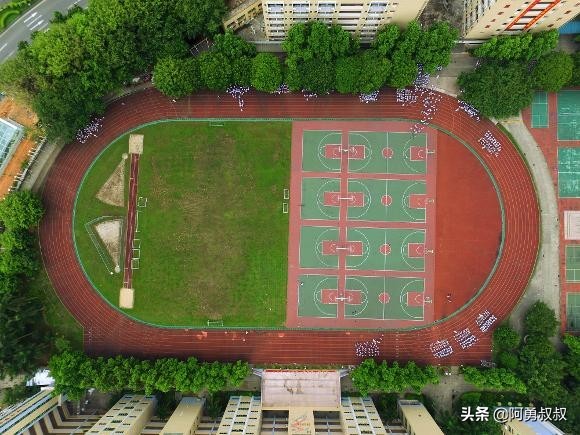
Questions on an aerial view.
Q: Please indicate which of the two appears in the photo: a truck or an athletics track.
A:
athletics track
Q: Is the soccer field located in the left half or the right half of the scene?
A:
left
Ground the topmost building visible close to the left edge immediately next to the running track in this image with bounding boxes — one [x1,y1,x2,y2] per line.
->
[0,115,32,186]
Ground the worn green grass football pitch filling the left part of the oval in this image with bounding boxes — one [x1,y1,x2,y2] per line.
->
[75,122,290,328]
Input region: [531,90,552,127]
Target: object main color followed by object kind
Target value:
green sports court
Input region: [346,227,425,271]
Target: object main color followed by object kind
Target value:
green basketball court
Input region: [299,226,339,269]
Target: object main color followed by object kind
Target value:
green basketball court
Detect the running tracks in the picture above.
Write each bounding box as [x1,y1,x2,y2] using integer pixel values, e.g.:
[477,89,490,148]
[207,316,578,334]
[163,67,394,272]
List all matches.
[37,84,540,371]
